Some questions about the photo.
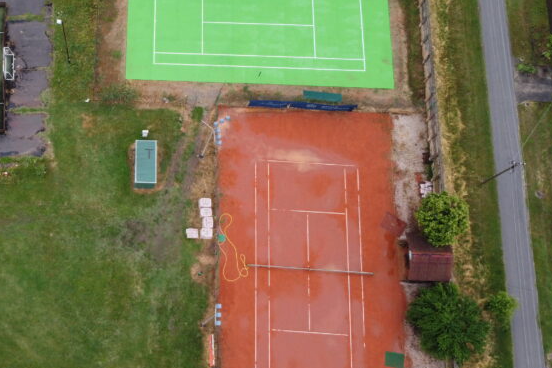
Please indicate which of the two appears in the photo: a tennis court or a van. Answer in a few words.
tennis court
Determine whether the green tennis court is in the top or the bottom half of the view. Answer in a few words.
top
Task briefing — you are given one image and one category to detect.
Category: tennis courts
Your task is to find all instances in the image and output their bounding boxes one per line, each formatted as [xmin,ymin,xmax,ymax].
[126,0,394,88]
[218,109,405,368]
